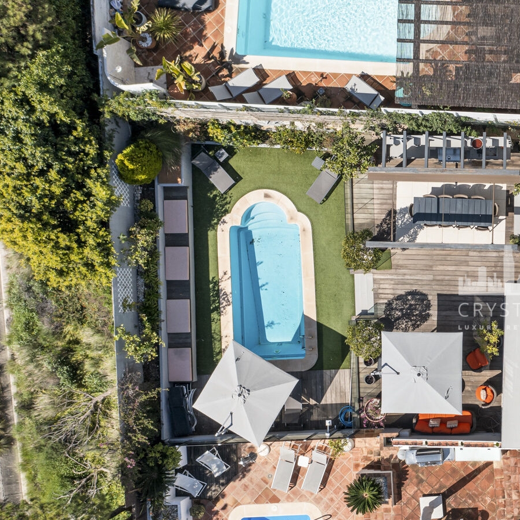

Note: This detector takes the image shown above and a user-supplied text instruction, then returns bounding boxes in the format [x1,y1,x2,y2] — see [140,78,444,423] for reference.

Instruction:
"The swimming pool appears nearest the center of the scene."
[218,189,317,371]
